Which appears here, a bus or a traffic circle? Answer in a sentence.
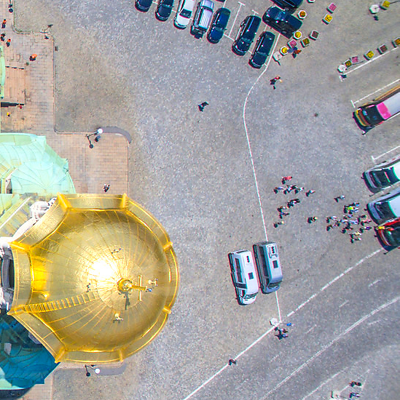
There is a bus in the scene.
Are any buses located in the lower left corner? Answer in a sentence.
No, I can find no bus in the lower left corner.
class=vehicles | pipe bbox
[274,0,302,11]
[381,225,400,254]
[359,94,400,133]
[155,0,174,20]
[368,162,400,196]
[191,0,213,36]
[173,0,194,28]
[255,243,284,291]
[263,7,301,35]
[230,252,259,301]
[134,0,153,11]
[249,32,275,67]
[207,9,229,43]
[233,17,260,53]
